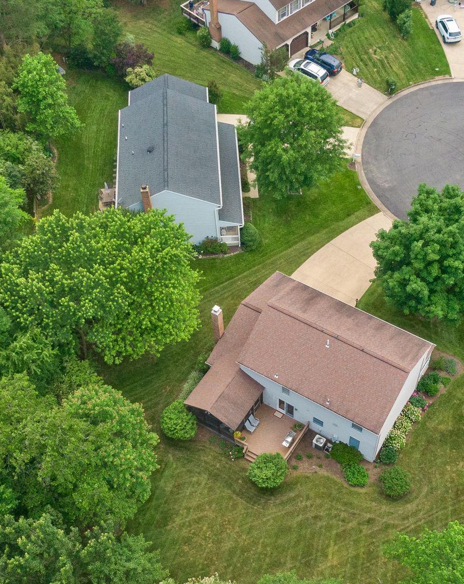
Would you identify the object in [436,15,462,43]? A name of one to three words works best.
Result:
car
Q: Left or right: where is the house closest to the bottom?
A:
right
